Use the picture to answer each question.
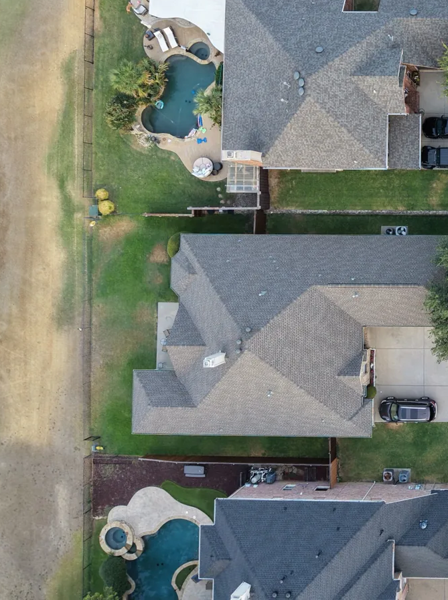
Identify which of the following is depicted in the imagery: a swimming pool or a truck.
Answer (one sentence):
It is a swimming pool that can be seen here.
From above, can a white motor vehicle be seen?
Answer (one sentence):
No, there's no white motor vehicle here.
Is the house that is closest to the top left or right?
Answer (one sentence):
The house that is closest to the top appears in the right half of the scene.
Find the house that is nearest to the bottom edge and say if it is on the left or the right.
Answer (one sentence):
The house that is nearest to the bottom edge sits on the right side.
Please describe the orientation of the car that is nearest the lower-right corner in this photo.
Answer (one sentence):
The car that is nearest the lower-right corner is oriented from left to right.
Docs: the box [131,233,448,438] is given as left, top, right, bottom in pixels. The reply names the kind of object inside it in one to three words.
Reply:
house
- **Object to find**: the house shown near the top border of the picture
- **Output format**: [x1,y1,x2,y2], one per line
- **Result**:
[222,0,448,170]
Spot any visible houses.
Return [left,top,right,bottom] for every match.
[222,0,448,170]
[198,481,448,600]
[131,233,448,438]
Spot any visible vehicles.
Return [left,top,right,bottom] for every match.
[422,144,448,170]
[423,114,448,141]
[379,395,438,424]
